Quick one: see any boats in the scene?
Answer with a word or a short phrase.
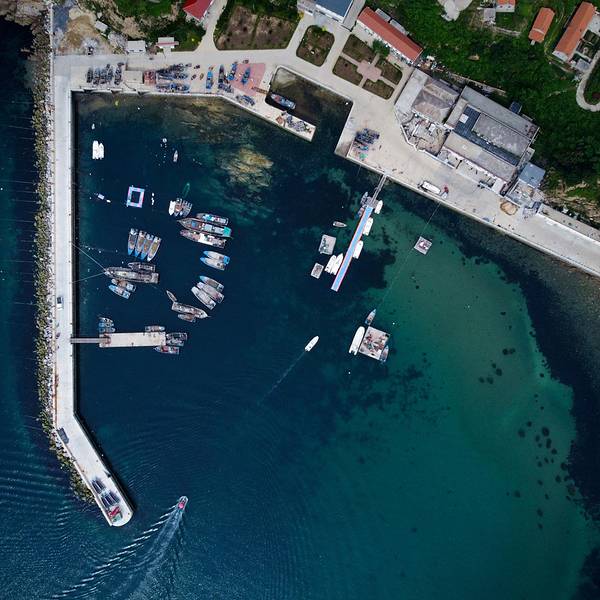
Yes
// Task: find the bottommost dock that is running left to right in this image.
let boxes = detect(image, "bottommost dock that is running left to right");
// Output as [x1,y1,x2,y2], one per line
[71,332,166,347]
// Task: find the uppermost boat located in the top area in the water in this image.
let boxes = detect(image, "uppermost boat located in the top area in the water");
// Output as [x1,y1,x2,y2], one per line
[271,94,297,109]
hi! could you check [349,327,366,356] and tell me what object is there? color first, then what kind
white boat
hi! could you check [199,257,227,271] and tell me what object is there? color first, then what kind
white boat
